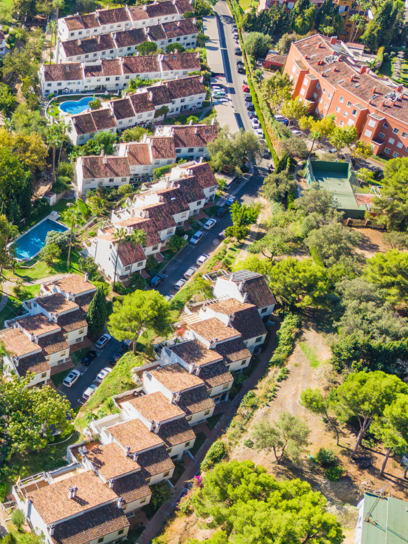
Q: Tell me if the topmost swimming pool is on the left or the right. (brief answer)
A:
left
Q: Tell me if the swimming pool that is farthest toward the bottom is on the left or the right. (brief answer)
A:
left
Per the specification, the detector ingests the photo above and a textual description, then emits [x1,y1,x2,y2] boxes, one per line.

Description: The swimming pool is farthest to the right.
[58,95,102,115]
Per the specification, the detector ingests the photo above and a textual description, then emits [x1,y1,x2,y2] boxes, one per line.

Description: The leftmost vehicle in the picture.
[63,369,81,386]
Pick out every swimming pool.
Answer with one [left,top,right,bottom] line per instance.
[58,95,102,115]
[11,216,71,260]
